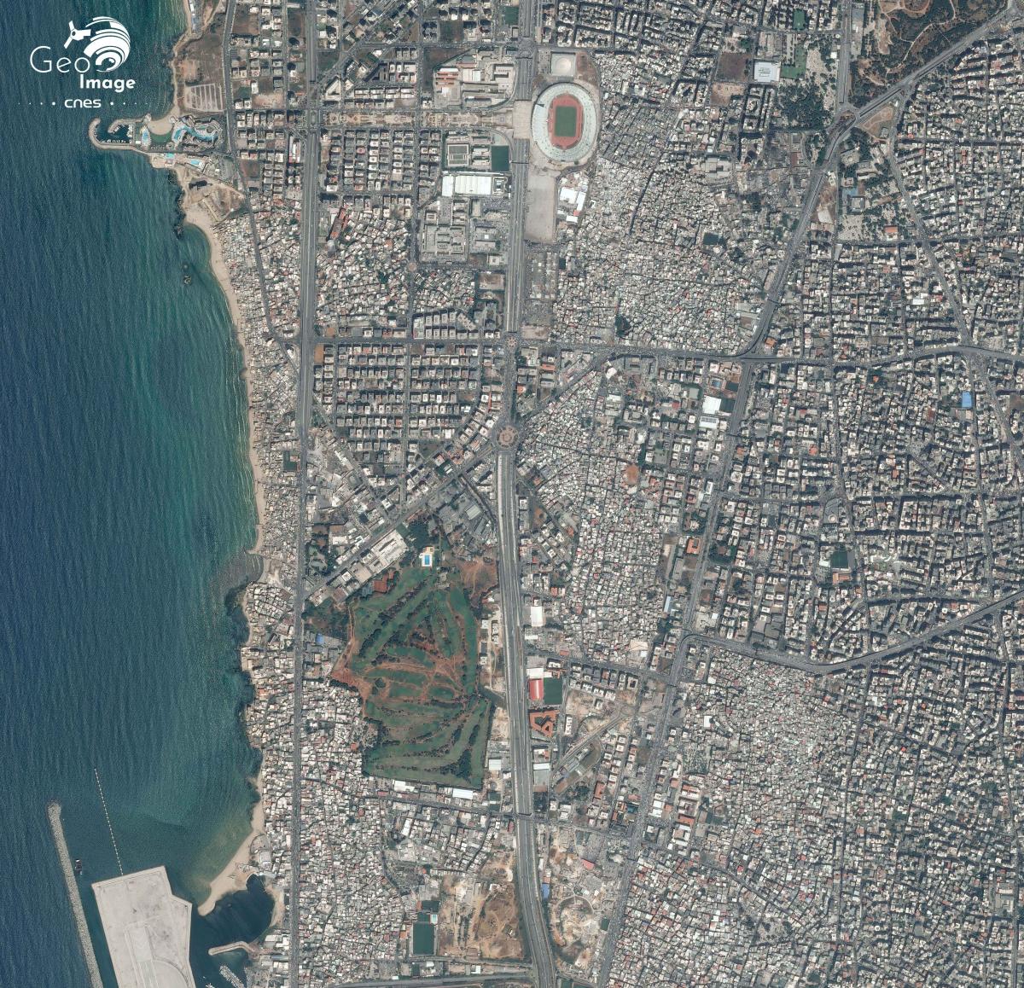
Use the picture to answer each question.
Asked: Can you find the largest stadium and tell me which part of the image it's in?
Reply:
top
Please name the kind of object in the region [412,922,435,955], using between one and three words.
sports field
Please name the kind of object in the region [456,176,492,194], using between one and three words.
building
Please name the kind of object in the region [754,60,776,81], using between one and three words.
building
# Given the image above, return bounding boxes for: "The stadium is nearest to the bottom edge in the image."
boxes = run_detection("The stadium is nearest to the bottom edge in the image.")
[531,81,597,162]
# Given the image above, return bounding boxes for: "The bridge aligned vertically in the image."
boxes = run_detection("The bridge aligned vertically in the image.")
[512,100,532,139]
